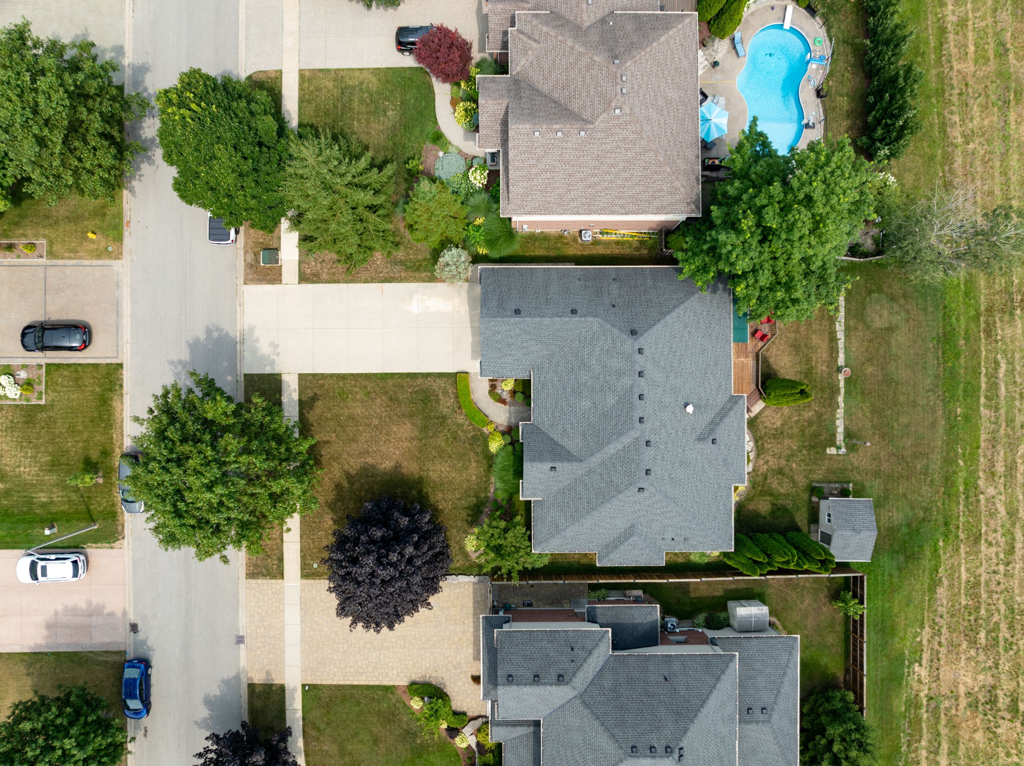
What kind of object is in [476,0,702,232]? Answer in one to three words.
house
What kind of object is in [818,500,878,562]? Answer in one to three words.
shed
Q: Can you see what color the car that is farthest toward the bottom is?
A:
blue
